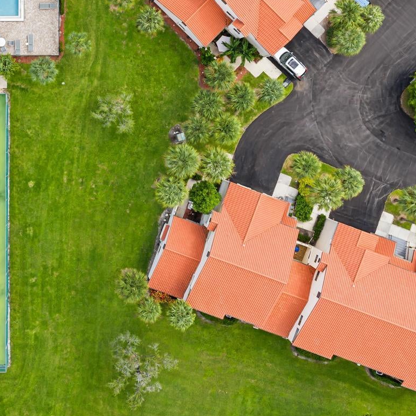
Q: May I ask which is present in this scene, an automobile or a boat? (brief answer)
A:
automobile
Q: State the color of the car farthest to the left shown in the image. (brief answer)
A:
white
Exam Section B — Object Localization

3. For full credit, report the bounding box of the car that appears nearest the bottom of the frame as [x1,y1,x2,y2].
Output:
[272,45,308,81]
